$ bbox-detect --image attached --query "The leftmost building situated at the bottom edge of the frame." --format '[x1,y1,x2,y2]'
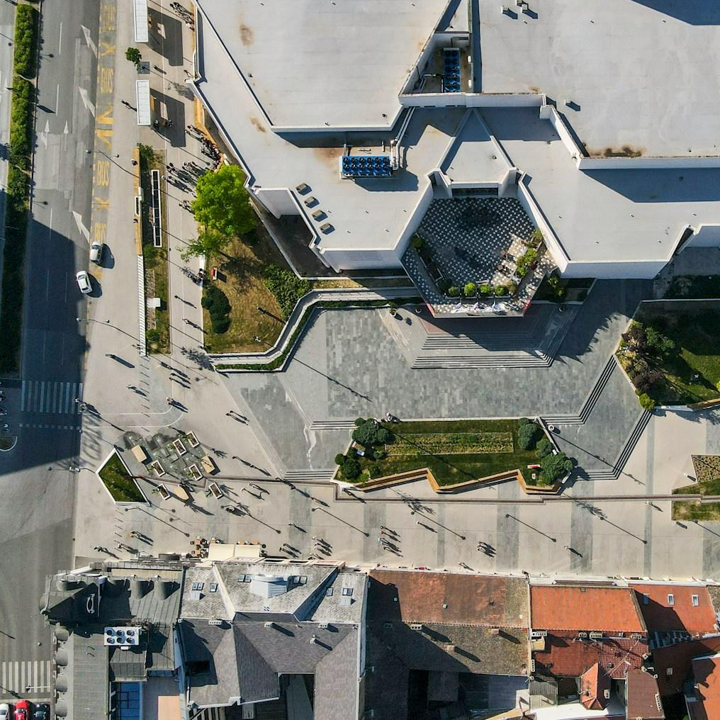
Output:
[45,555,213,720]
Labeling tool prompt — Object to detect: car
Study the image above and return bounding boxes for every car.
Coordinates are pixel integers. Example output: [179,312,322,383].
[34,704,50,720]
[76,269,93,297]
[88,237,105,266]
[15,699,30,720]
[0,703,12,720]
